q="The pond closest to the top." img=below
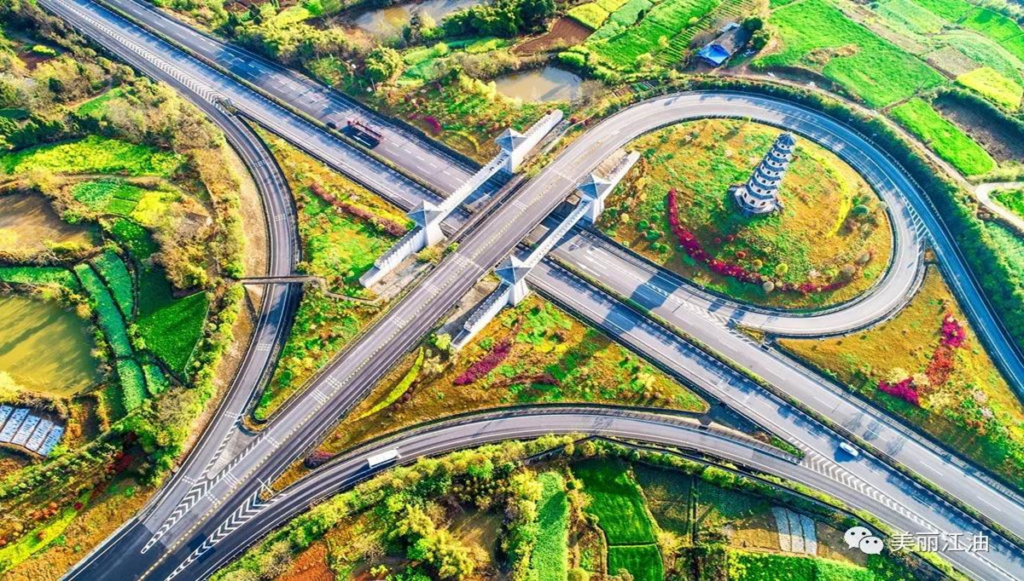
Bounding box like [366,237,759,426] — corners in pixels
[359,0,475,30]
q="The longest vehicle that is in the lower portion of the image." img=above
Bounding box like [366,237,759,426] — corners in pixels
[366,449,401,469]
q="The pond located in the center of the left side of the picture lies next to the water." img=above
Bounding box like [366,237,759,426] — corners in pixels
[0,295,100,395]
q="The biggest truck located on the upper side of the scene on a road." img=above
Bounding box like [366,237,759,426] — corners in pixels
[347,119,384,142]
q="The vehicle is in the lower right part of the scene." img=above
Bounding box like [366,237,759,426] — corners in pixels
[839,442,858,457]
